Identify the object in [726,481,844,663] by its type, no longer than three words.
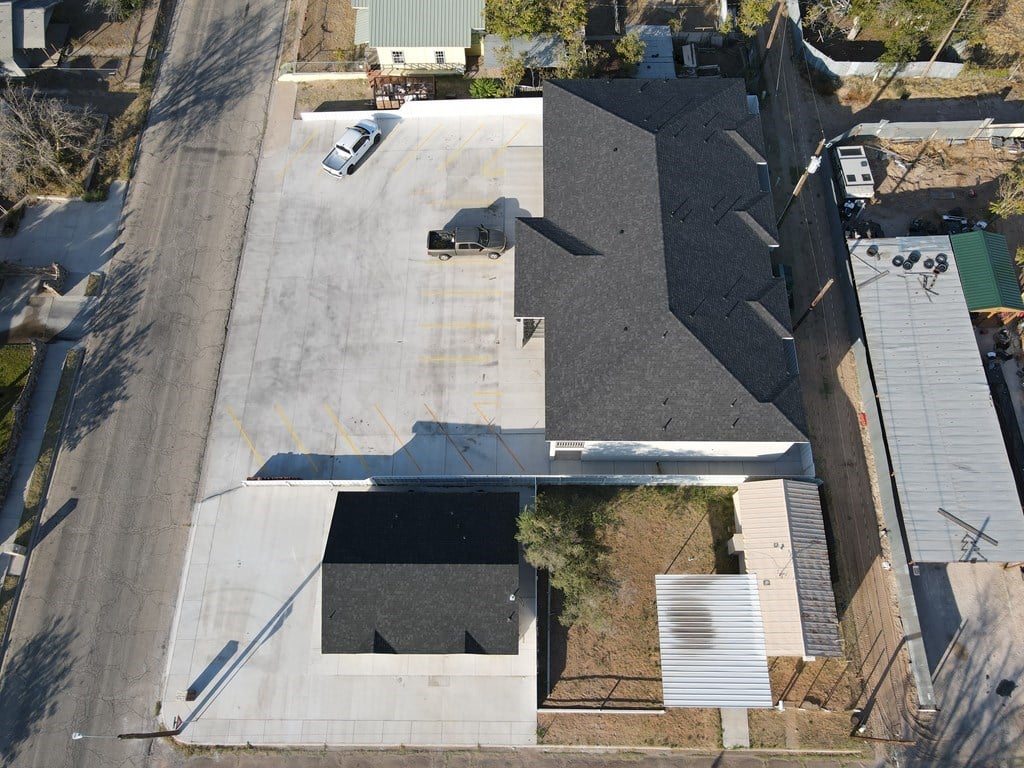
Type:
house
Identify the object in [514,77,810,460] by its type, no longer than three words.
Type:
building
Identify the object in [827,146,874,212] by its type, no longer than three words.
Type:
van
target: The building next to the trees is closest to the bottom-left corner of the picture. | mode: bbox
[322,492,520,655]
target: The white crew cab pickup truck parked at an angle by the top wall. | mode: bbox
[318,120,383,185]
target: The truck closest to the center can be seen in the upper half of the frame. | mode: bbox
[425,225,507,261]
